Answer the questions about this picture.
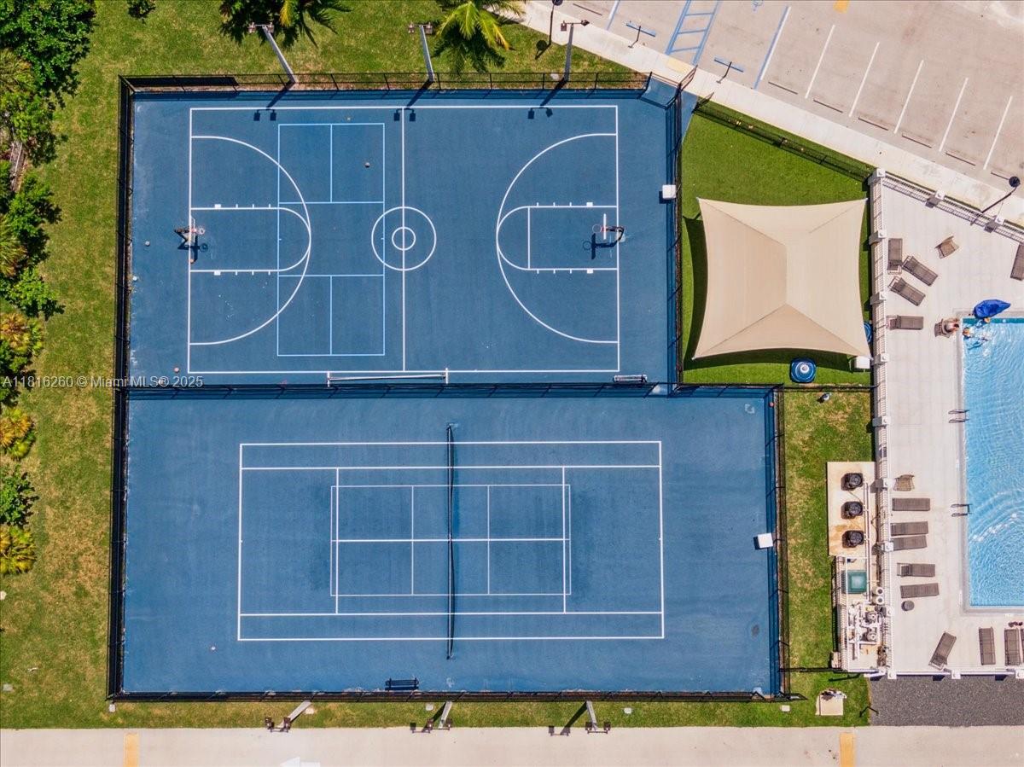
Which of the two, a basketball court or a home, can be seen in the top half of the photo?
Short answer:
basketball court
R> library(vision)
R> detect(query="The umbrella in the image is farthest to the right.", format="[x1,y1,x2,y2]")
[973,301,1012,321]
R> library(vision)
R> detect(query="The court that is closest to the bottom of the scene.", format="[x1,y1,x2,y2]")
[123,386,779,694]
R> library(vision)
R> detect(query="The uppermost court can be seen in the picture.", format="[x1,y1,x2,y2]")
[128,79,697,385]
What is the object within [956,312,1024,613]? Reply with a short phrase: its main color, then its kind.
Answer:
blue swimming pool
